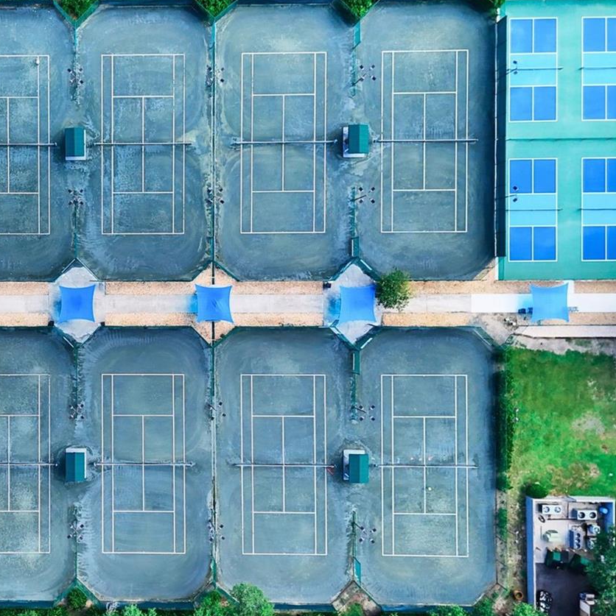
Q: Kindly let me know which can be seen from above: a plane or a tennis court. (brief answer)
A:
tennis court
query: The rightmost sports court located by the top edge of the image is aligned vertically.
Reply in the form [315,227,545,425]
[577,16,616,121]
